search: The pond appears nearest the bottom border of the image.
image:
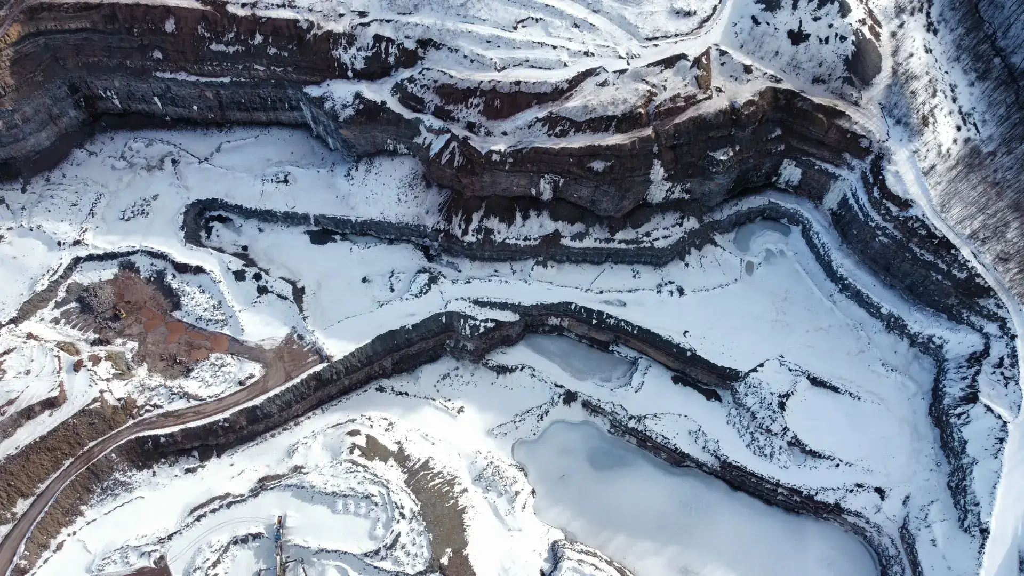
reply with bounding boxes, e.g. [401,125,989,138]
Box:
[513,420,880,576]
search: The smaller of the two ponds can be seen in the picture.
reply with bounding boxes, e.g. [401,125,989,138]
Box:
[524,334,633,382]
